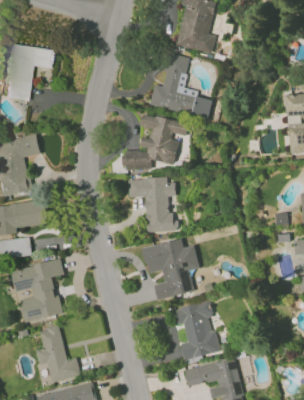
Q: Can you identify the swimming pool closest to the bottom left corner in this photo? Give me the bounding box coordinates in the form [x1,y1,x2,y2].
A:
[20,353,35,380]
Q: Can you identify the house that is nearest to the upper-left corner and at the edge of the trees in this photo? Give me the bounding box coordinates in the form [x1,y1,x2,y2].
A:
[6,42,54,100]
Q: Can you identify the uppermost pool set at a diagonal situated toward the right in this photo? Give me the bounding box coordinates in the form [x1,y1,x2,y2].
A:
[191,64,212,91]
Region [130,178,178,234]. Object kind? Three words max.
house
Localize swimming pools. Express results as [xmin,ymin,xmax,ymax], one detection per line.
[191,64,212,91]
[284,366,302,396]
[0,98,24,125]
[282,180,304,206]
[278,252,296,280]
[296,310,304,334]
[220,260,245,279]
[254,356,270,386]
[20,353,35,380]
[260,127,278,154]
